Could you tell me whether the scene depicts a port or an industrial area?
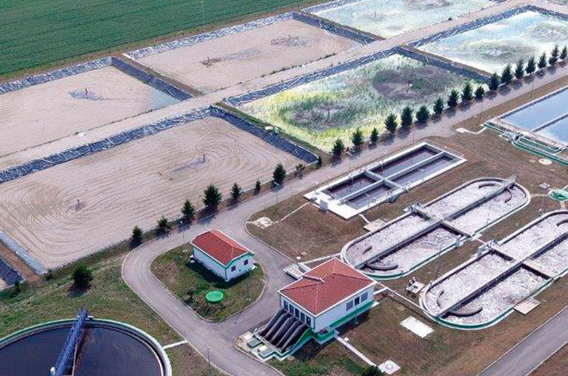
industrial area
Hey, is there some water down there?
Yes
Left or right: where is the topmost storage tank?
right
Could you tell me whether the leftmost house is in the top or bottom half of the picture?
bottom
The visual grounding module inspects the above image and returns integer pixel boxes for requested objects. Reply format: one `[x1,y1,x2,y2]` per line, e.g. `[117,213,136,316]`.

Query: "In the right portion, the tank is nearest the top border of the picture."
[303,139,469,220]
